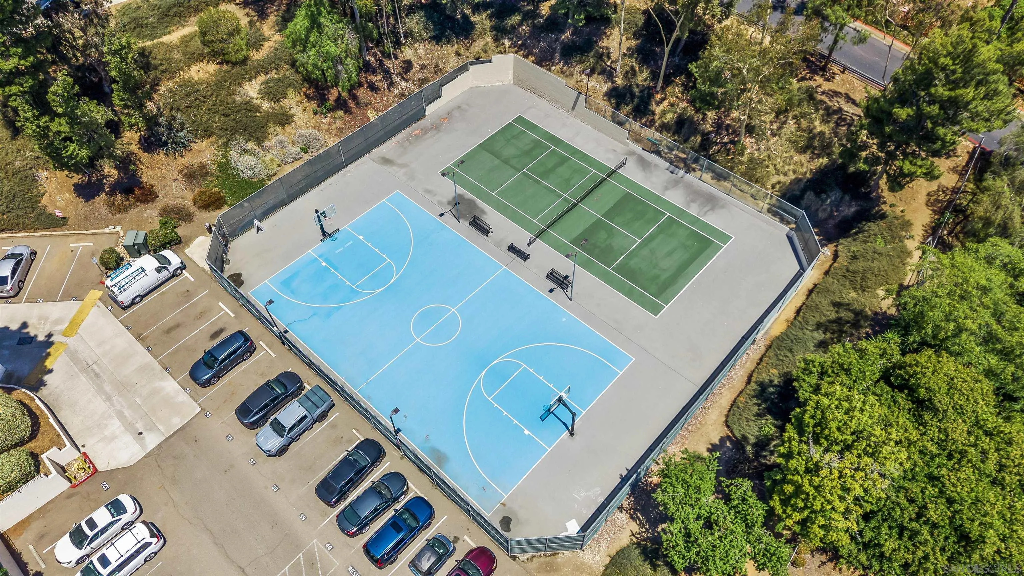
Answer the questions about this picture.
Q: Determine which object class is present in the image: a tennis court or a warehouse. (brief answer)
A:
tennis court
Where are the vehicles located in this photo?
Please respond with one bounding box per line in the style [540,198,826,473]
[103,254,185,312]
[335,472,409,542]
[80,527,160,576]
[408,532,455,576]
[189,333,253,388]
[445,546,497,576]
[252,390,331,461]
[0,248,34,298]
[363,499,434,570]
[313,440,385,509]
[234,373,304,431]
[52,496,138,571]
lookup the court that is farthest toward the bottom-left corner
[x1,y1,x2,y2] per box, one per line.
[249,190,636,515]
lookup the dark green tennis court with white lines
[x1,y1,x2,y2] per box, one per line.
[438,114,734,318]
